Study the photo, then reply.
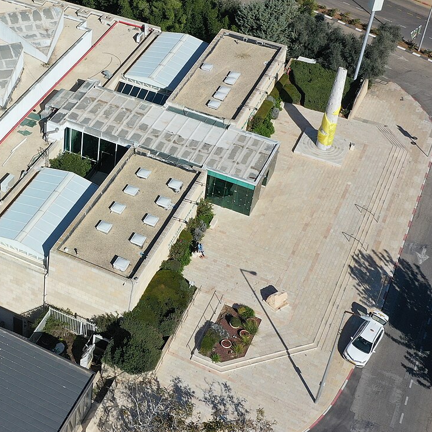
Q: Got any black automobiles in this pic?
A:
No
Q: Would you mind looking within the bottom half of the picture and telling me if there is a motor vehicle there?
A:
Yes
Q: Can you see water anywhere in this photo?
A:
No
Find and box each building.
[0,0,293,339]
[0,326,95,432]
